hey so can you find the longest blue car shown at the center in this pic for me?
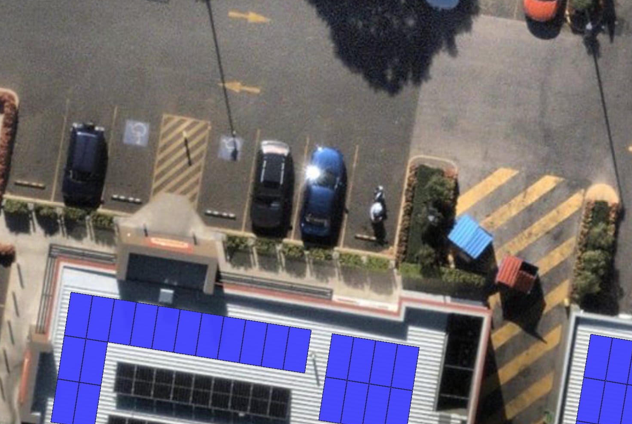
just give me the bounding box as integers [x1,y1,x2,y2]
[301,145,345,239]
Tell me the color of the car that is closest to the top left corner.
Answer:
black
